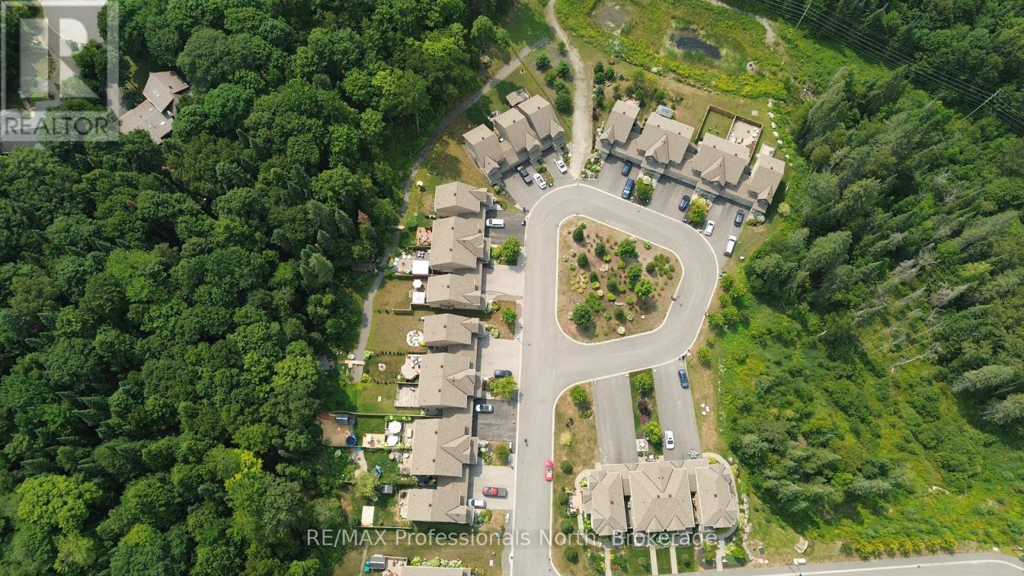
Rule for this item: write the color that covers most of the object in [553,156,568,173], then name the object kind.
white car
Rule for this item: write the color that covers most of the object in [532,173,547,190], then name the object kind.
white car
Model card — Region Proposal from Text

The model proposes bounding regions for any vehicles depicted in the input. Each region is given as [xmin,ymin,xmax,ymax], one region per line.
[482,486,507,497]
[678,195,689,211]
[621,179,635,198]
[664,429,674,450]
[532,173,547,190]
[475,403,494,413]
[493,369,513,378]
[732,209,746,227]
[486,219,506,228]
[544,461,554,481]
[515,166,533,186]
[469,498,486,508]
[553,156,568,173]
[704,220,715,237]
[678,369,690,389]
[723,236,737,256]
